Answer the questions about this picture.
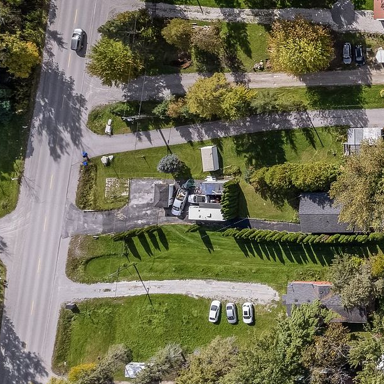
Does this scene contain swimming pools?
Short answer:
No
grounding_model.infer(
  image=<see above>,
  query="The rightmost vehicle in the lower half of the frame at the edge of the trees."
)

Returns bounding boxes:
[241,301,254,325]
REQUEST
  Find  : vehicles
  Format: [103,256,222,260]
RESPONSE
[225,301,237,325]
[208,299,221,323]
[185,194,212,205]
[241,301,254,325]
[70,27,85,50]
[342,42,353,64]
[172,187,189,216]
[354,43,364,64]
